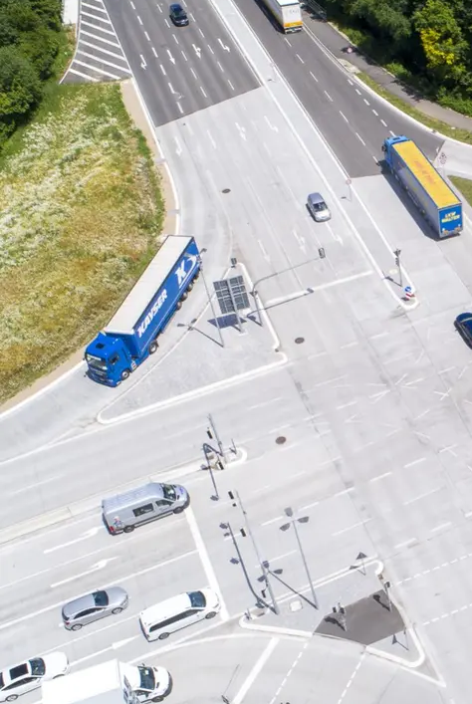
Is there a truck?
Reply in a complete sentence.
Yes, a truck appears in the view.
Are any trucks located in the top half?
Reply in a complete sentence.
Yes, in the top half there is a truck.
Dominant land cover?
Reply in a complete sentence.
The bulk of the photo consists of paved ground.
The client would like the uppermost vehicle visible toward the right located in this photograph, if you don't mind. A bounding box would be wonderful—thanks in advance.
[264,0,304,32]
